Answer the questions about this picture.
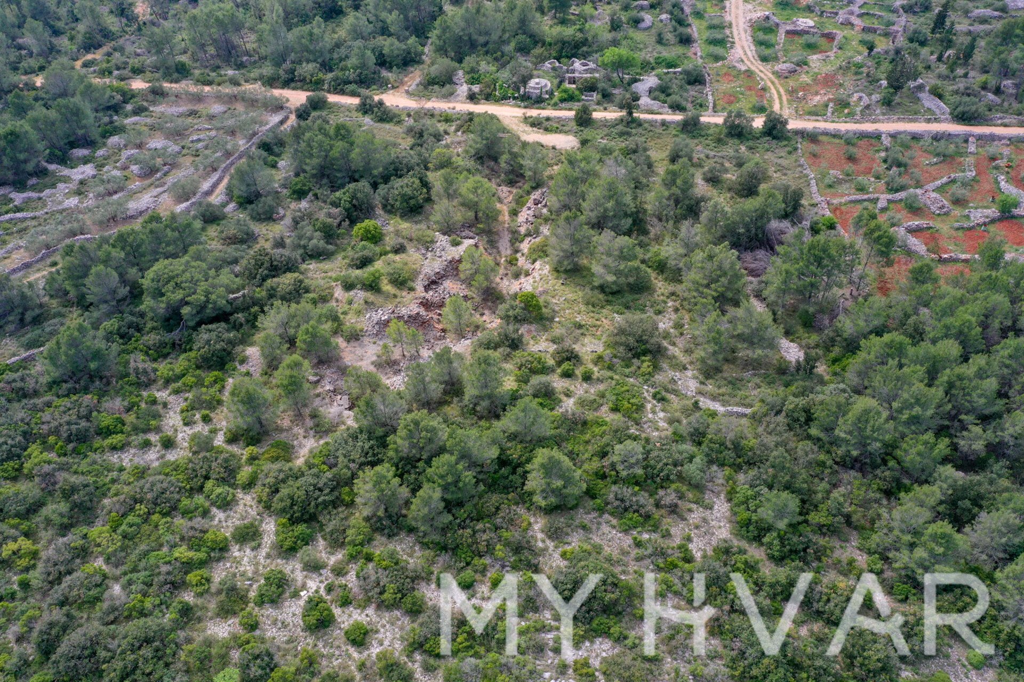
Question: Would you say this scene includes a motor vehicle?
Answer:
No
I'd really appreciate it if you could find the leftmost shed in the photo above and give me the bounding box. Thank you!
[522,79,555,103]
